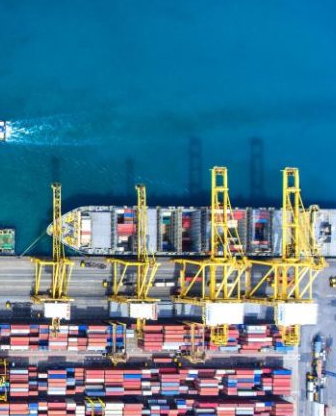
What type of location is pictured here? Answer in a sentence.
This looks like a port.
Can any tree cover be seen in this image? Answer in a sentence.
No, there's no tree cover in this view.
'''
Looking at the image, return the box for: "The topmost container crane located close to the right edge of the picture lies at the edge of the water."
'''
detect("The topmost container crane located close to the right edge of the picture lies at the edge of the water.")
[231,169,325,350]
